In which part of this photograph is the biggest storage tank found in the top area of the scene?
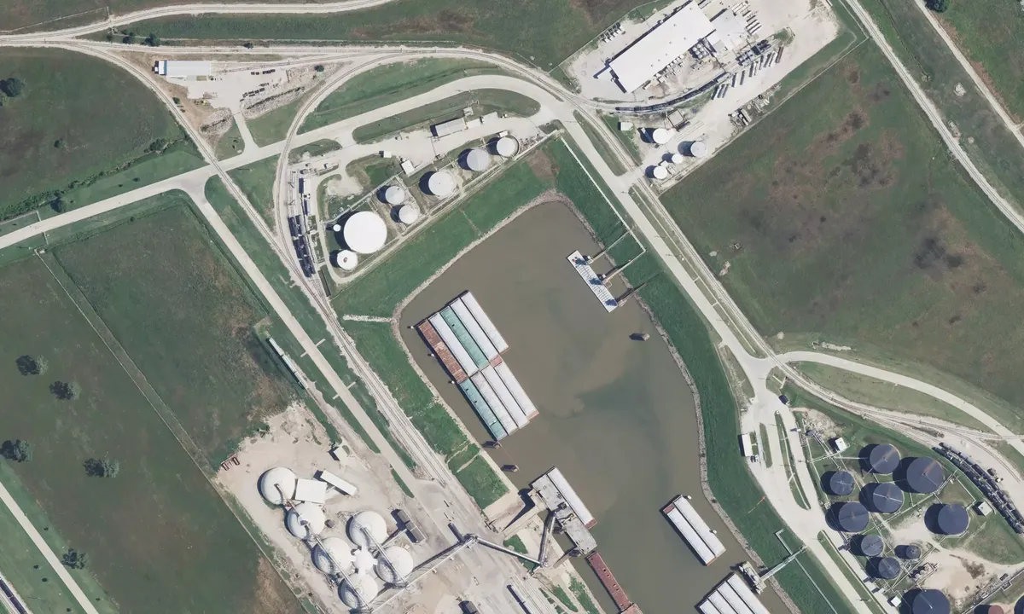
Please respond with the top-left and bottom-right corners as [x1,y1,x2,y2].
[343,209,387,254]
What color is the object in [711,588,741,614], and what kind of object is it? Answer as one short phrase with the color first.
white ship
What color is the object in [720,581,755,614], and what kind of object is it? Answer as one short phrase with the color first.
white ship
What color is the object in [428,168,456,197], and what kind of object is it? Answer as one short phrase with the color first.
white storage tank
